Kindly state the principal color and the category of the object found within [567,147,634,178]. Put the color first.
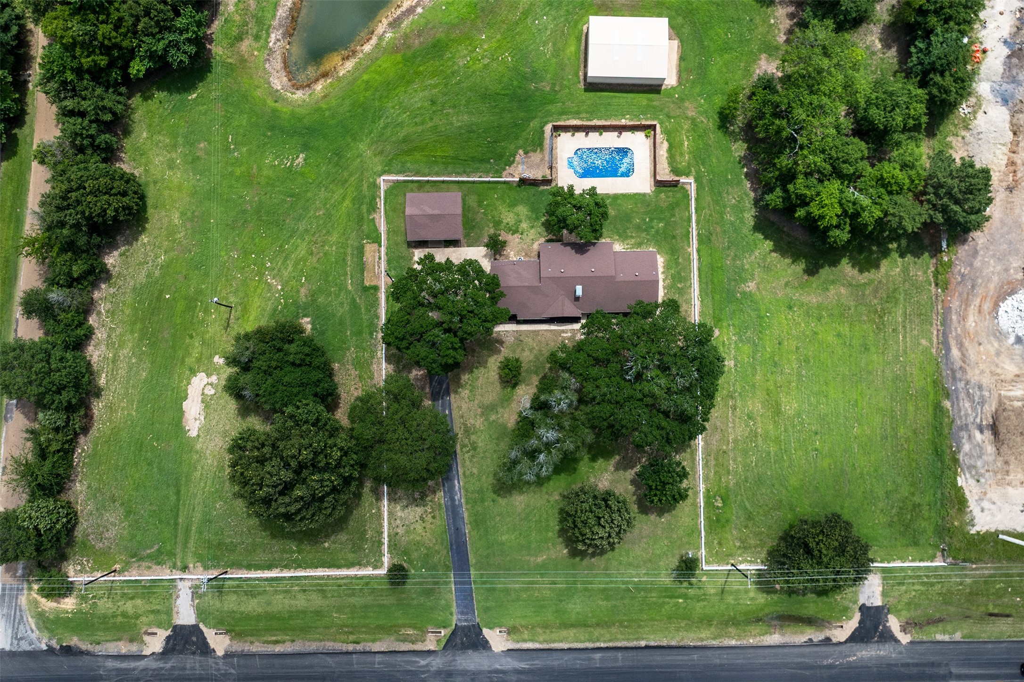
blue swimming pool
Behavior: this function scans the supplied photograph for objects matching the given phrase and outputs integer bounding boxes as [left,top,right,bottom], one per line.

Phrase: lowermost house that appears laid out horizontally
[490,241,659,320]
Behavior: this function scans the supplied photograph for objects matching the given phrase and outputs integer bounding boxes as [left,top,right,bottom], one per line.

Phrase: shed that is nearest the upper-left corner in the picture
[405,192,462,245]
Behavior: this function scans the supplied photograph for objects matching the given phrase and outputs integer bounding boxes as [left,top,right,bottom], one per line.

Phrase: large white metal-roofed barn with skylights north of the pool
[586,14,668,85]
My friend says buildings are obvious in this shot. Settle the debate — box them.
[490,241,659,320]
[405,192,462,245]
[586,14,668,85]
